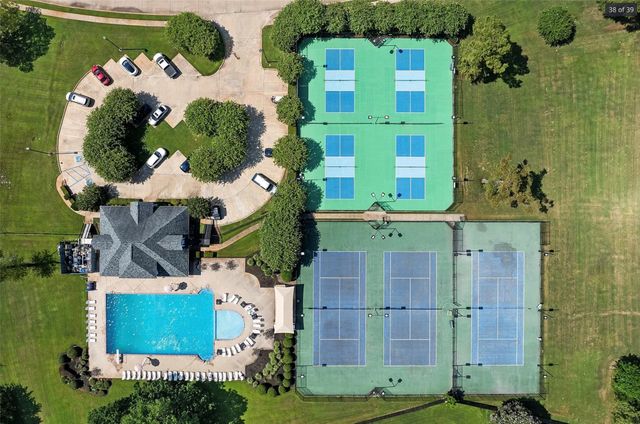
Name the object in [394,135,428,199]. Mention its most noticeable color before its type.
blue sports court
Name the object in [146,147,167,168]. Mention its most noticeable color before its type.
white car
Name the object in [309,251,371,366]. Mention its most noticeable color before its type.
blue tennis court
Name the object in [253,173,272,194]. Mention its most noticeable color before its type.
white vehicle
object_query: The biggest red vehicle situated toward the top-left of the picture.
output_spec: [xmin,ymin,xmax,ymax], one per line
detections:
[92,63,112,84]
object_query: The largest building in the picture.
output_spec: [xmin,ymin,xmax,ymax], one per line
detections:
[92,202,190,278]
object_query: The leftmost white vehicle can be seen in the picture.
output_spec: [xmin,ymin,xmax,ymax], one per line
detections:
[66,91,91,106]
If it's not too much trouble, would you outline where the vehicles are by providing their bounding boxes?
[266,148,274,157]
[155,53,179,78]
[92,63,112,84]
[148,103,168,124]
[253,173,272,194]
[120,55,141,75]
[177,159,187,173]
[146,147,167,168]
[66,91,91,106]
[135,103,154,124]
